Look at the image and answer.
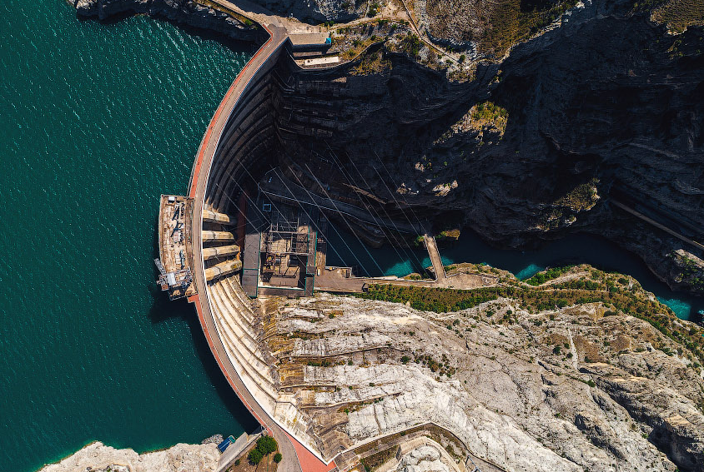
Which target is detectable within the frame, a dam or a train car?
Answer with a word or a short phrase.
dam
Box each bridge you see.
[425,232,447,288]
